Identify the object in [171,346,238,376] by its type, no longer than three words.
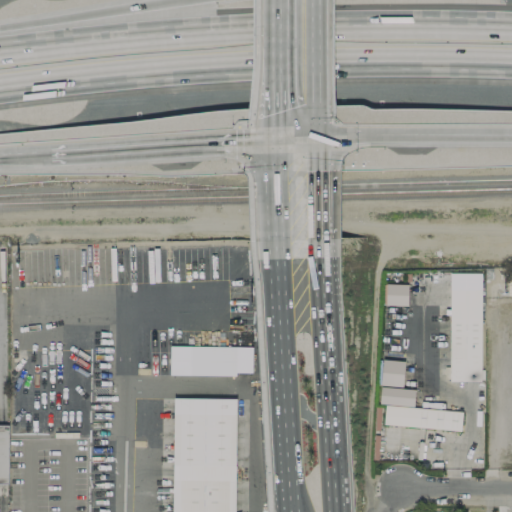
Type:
building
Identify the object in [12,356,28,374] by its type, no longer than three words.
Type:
vehicle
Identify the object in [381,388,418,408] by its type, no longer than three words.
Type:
building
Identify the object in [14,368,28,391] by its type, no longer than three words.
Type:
vehicle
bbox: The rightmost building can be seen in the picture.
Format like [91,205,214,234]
[452,274,484,382]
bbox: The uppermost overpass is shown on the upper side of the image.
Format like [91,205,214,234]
[249,0,336,106]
